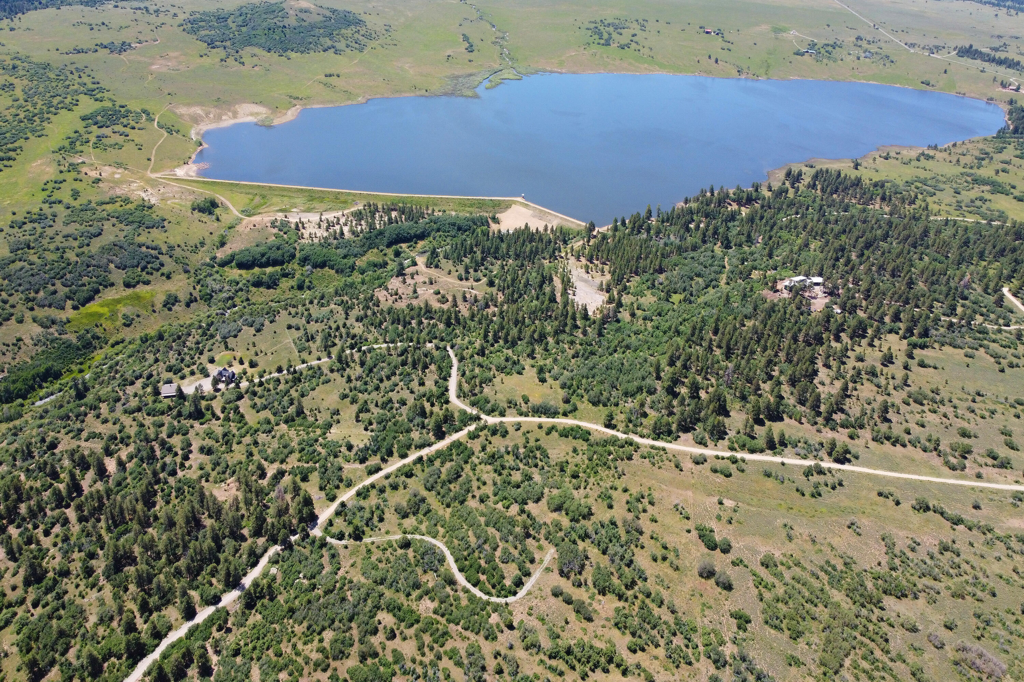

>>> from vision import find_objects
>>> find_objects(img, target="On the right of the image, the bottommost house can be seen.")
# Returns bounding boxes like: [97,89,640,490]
[782,274,820,291]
